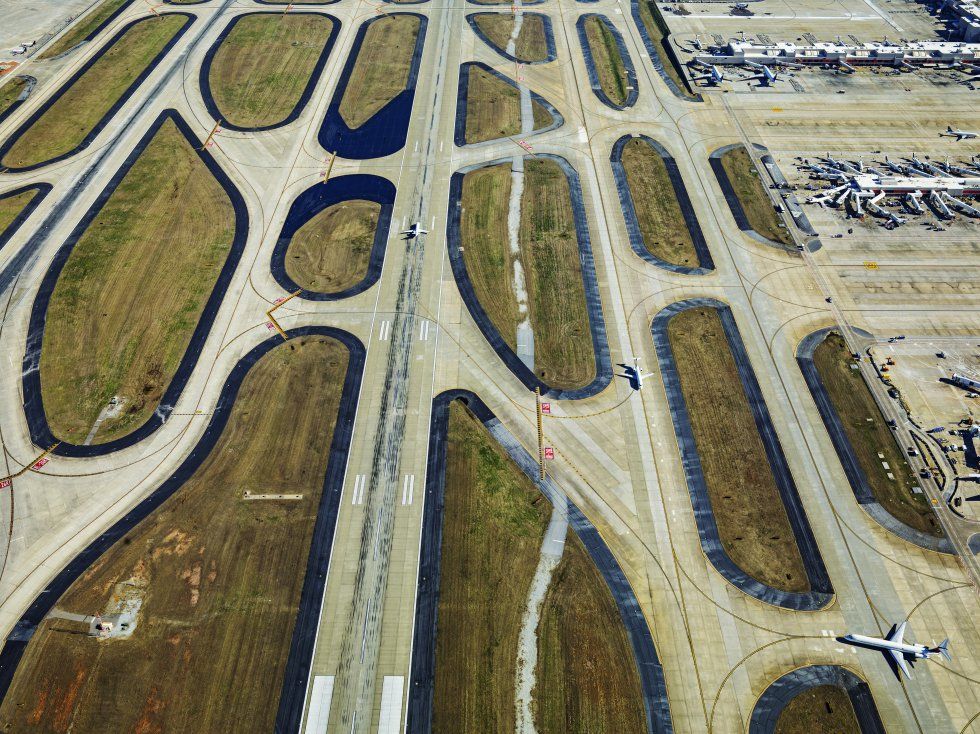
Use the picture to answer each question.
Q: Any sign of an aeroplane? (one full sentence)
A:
Yes, you can see an aeroplane in this photo.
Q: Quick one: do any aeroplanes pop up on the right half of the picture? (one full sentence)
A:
Yes, an aeroplane can be seen on the right half of the picture.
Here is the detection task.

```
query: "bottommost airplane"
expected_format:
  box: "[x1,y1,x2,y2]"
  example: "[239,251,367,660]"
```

[843,621,954,681]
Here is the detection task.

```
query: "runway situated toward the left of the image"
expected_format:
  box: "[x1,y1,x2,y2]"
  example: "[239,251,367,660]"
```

[299,0,464,734]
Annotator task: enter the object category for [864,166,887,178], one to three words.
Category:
jet bridge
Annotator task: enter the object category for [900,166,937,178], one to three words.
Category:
jet bridge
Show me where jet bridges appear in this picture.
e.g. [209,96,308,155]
[906,190,924,214]
[900,166,937,178]
[820,182,853,196]
[948,164,980,176]
[835,187,854,207]
[864,166,887,178]
[900,58,918,72]
[869,189,905,226]
[774,59,807,71]
[695,58,713,70]
[958,59,980,73]
[929,189,954,219]
[744,58,765,71]
[922,161,954,178]
[837,161,864,176]
[838,58,857,75]
[854,190,876,217]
